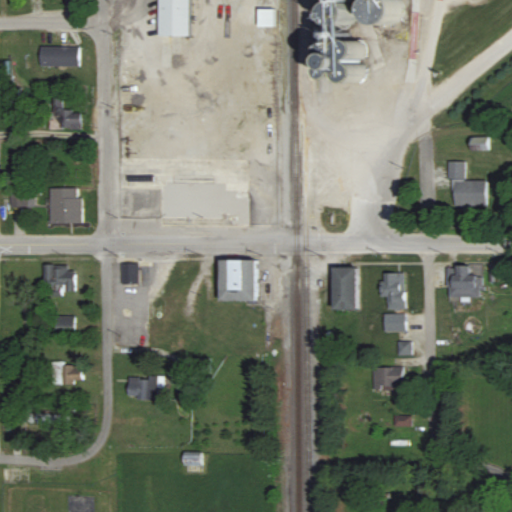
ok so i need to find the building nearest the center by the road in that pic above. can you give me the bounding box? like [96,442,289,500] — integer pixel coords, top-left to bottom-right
[218,260,260,301]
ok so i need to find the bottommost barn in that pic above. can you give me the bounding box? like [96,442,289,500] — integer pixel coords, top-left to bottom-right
[182,453,204,472]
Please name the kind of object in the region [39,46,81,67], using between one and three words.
house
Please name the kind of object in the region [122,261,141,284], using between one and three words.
building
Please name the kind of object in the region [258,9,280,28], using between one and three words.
shed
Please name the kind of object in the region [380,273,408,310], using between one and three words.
house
